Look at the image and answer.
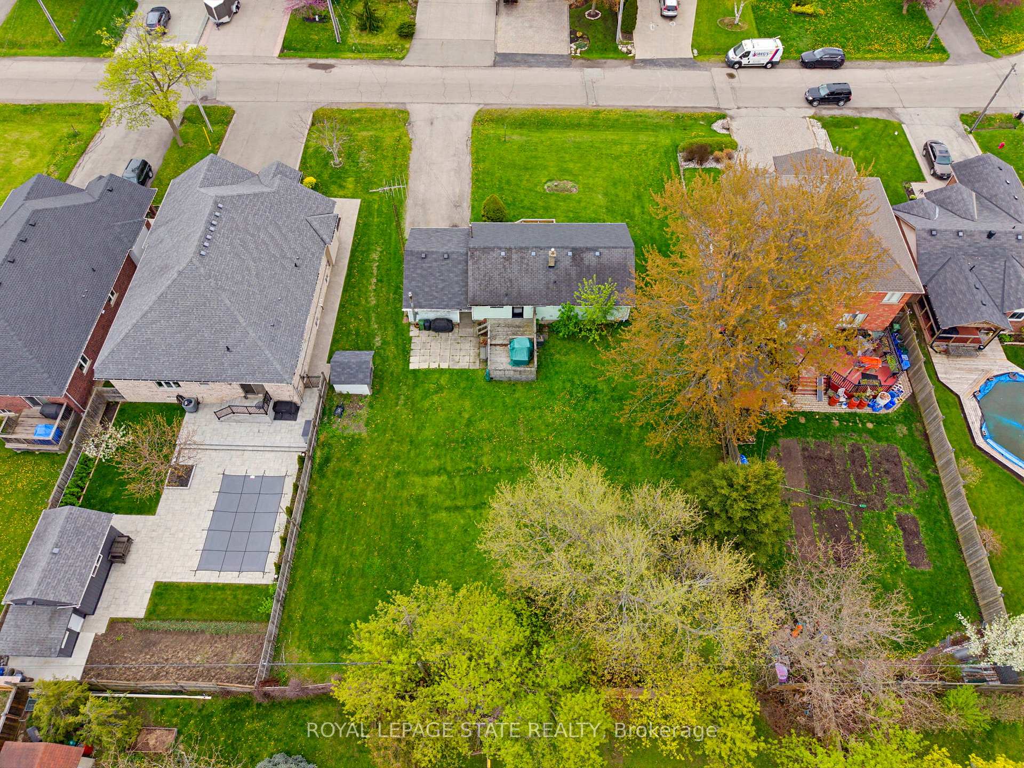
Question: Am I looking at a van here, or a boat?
van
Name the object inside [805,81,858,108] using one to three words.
car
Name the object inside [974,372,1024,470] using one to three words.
swimming pool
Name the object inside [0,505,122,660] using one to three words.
building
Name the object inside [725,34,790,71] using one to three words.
van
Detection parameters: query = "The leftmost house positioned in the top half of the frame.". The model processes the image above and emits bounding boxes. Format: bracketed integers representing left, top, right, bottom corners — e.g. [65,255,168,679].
[0,173,160,411]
